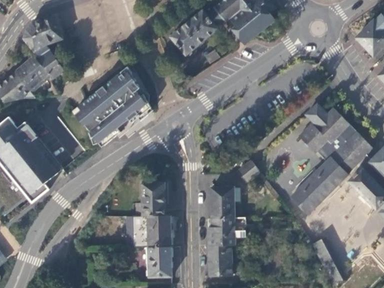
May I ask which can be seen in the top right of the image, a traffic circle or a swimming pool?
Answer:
traffic circle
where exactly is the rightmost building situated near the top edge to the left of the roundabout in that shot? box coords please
[216,0,274,44]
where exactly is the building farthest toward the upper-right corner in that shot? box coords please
[354,13,384,57]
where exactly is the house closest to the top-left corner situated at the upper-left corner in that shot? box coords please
[24,18,64,62]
